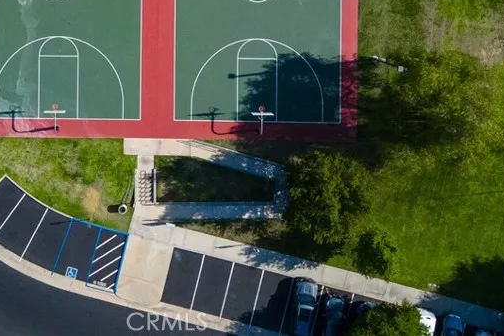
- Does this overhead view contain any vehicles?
Yes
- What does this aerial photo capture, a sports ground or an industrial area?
sports ground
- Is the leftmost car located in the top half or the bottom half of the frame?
bottom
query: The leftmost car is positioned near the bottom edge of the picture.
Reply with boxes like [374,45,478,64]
[288,279,319,335]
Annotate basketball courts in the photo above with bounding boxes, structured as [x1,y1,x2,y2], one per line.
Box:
[0,0,159,139]
[158,0,358,142]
